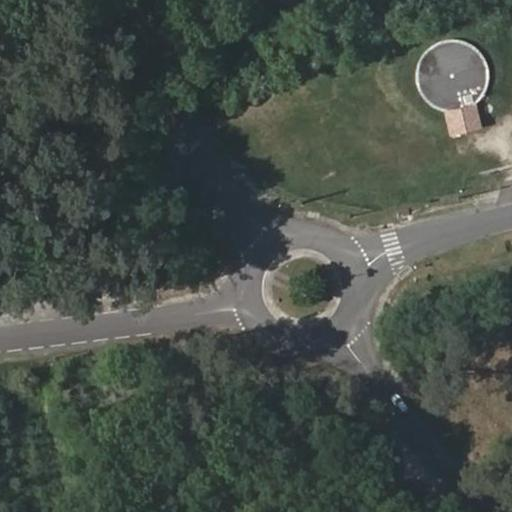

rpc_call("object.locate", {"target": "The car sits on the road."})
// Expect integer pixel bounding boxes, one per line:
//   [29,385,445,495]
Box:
[392,394,409,414]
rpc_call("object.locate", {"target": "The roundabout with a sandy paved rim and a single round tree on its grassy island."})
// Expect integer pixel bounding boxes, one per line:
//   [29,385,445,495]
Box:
[228,207,388,361]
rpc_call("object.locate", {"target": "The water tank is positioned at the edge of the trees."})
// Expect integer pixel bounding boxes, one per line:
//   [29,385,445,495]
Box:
[416,38,490,112]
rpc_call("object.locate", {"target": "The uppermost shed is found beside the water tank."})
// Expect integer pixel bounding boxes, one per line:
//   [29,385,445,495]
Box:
[447,103,482,136]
